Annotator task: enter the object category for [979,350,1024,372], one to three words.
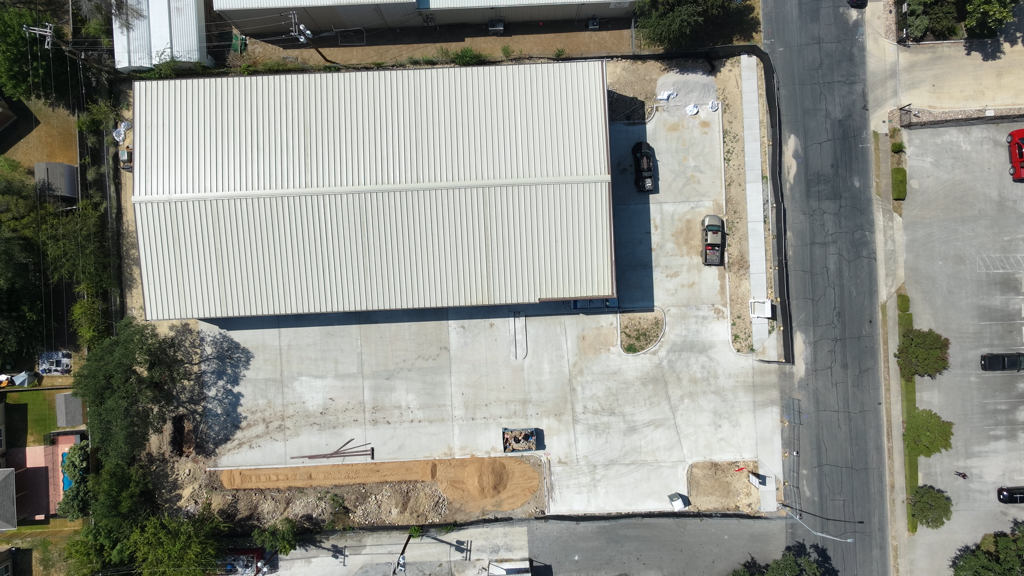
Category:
truck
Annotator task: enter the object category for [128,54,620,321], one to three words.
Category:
warehouse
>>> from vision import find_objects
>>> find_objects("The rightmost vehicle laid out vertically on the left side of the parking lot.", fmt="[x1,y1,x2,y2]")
[702,215,725,266]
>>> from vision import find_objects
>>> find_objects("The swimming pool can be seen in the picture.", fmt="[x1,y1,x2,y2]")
[61,452,81,493]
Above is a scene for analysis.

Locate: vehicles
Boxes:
[845,0,866,8]
[979,350,1024,372]
[631,142,654,194]
[995,484,1024,503]
[1005,130,1024,183]
[702,215,725,266]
